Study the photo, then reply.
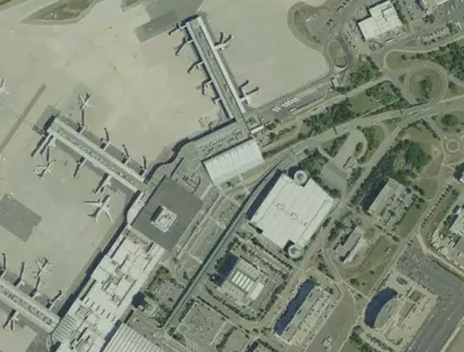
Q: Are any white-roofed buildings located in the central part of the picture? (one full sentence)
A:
Yes, a white-roofed building shows up in the central part of the picture.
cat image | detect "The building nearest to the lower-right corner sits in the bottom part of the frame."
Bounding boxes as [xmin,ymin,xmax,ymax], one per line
[375,292,420,333]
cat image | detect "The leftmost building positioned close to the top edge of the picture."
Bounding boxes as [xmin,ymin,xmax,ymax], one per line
[358,0,402,39]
